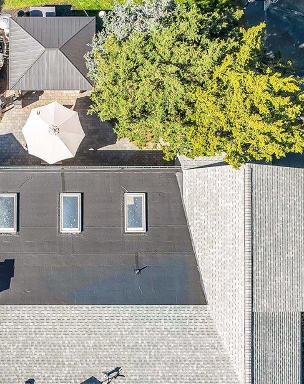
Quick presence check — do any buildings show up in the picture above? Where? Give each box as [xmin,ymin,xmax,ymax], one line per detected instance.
[0,154,304,384]
[9,15,95,102]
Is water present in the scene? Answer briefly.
No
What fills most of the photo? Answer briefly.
buildings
